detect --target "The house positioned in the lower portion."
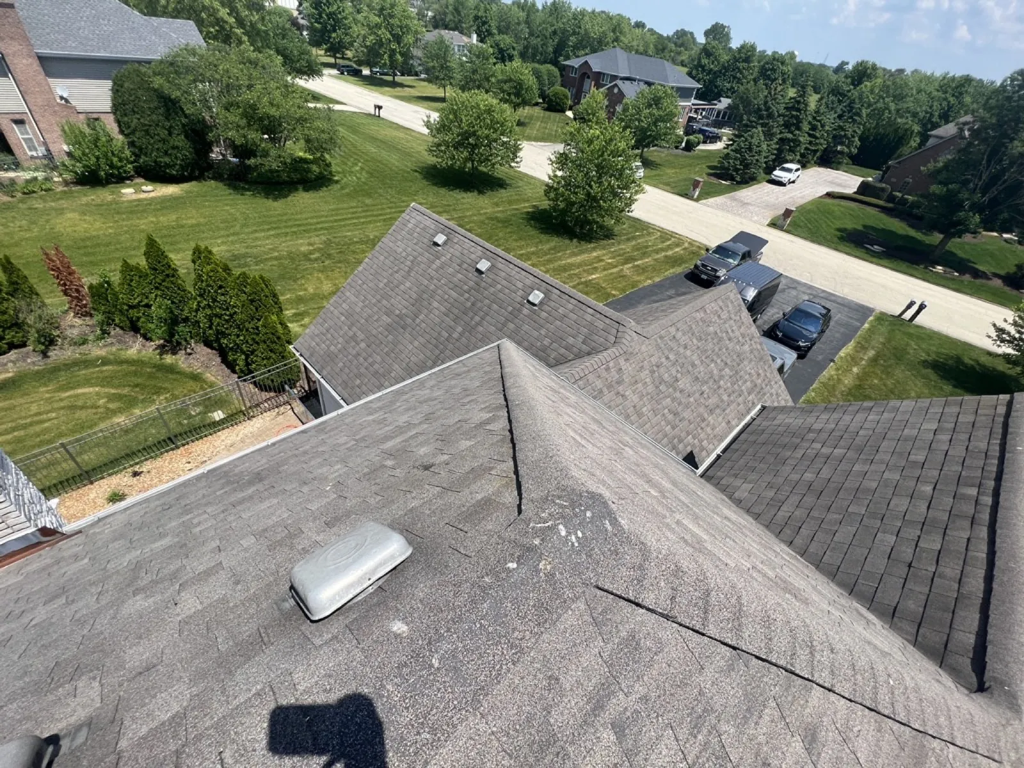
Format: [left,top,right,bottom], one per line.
[0,204,1024,768]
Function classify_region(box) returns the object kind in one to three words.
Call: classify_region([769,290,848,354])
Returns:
car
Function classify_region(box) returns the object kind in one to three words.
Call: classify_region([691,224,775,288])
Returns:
truck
